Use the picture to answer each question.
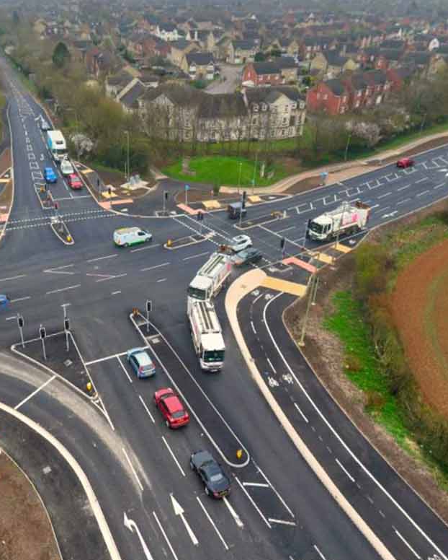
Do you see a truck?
Yes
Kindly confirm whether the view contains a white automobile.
Yes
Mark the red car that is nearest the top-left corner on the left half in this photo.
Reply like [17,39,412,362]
[69,174,81,187]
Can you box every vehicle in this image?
[233,248,263,265]
[189,452,234,504]
[188,290,226,363]
[46,130,65,160]
[45,168,57,180]
[61,160,73,174]
[310,204,367,242]
[189,246,233,300]
[154,391,190,430]
[115,228,149,246]
[226,234,256,252]
[126,349,154,379]
[69,174,81,187]
[223,202,248,220]
[395,157,414,168]
[39,118,48,128]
